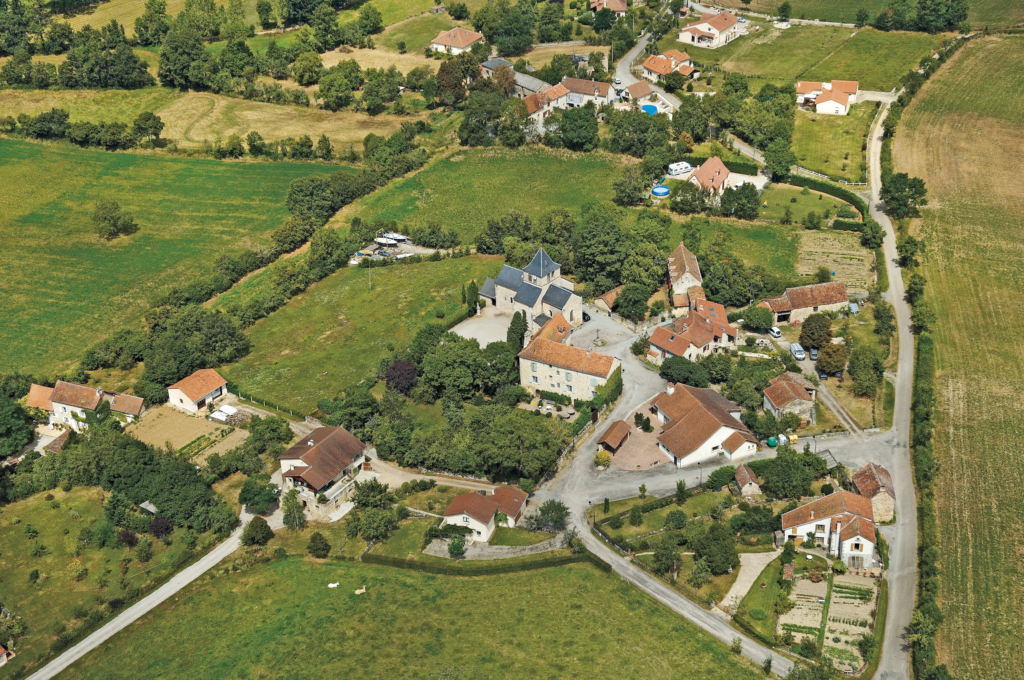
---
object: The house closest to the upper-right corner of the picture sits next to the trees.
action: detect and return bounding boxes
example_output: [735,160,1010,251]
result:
[795,77,859,116]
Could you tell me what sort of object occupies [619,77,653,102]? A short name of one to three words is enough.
building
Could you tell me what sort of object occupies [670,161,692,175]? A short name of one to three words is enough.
camper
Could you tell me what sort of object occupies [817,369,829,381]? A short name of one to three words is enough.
vehicle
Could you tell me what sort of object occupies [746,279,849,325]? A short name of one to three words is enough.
barn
